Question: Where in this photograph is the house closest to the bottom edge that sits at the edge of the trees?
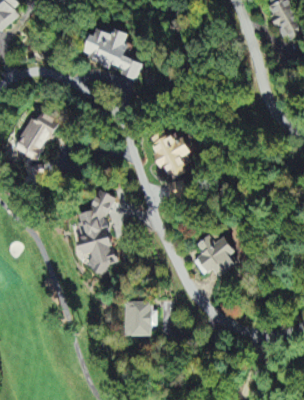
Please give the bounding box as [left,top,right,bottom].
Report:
[125,302,159,338]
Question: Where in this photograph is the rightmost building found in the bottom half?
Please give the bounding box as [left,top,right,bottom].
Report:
[190,234,240,280]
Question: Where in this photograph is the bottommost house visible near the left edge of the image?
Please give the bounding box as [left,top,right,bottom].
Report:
[14,112,59,162]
